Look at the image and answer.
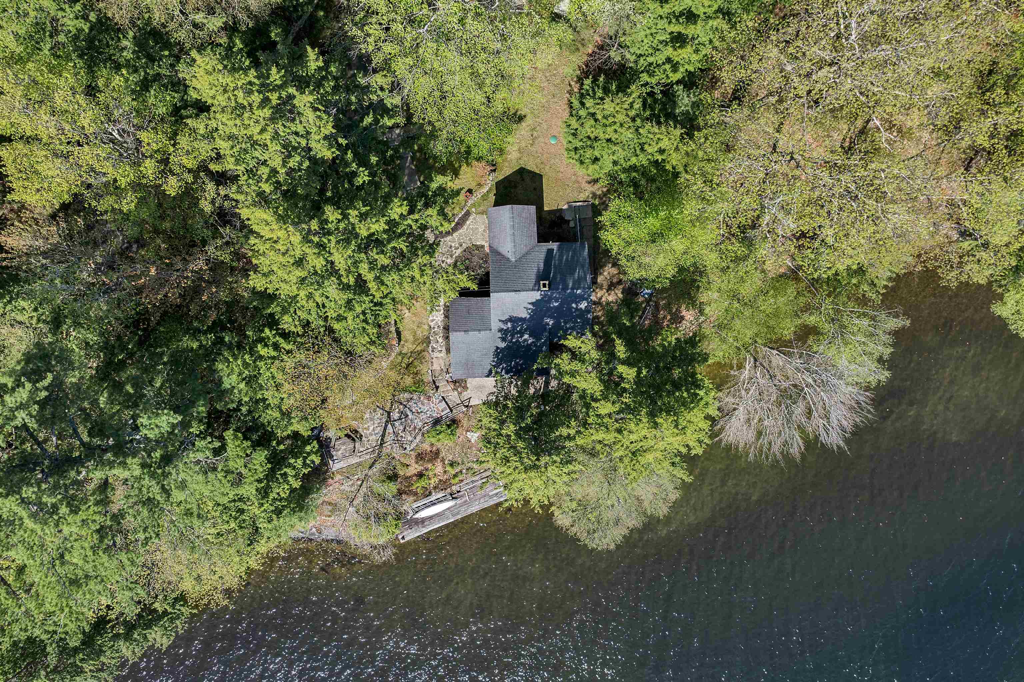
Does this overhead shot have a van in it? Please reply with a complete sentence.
No, this view has no van in it.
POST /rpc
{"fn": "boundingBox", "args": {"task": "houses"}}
[449,203,593,380]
